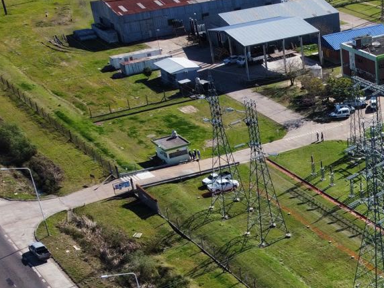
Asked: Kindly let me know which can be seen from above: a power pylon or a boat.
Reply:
power pylon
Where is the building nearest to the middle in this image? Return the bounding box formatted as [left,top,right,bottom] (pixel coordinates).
[148,131,192,162]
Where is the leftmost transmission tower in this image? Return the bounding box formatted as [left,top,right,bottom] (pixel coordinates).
[194,78,253,218]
